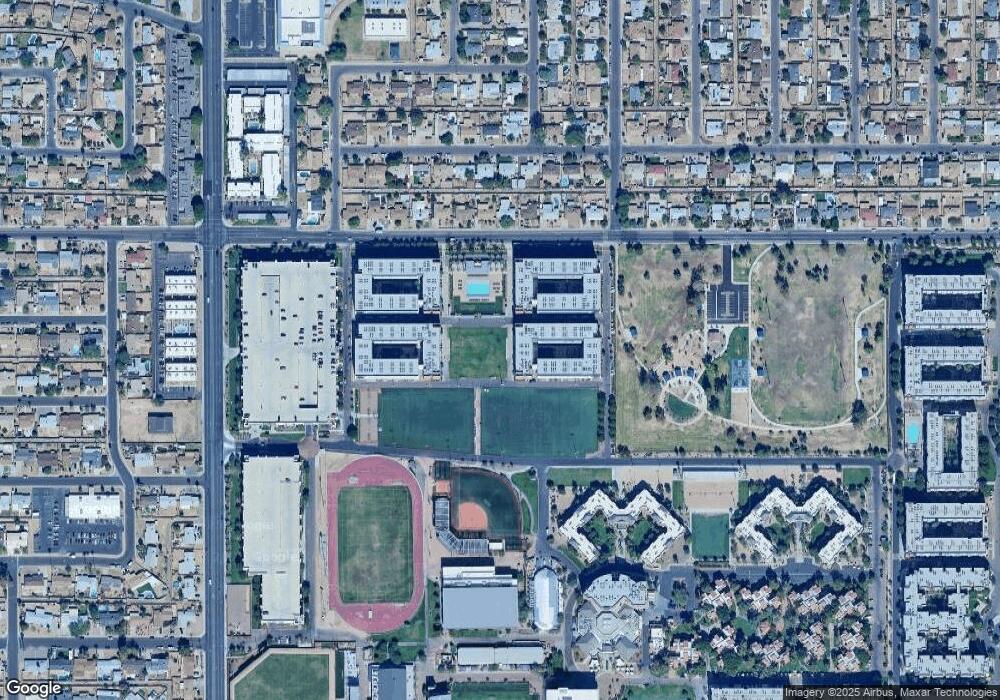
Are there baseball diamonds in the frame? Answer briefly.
Yes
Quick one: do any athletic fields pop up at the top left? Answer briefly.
No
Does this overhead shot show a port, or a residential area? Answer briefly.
residential area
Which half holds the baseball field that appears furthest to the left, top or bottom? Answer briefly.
bottom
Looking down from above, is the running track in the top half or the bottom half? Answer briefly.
bottom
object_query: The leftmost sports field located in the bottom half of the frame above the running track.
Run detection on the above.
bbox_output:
[379,389,474,453]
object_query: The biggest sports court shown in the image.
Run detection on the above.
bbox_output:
[684,480,737,509]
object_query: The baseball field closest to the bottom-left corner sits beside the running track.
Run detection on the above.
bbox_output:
[229,647,334,700]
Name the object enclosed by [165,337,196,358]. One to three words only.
building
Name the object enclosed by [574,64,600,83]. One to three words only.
house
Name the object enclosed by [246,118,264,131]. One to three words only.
swimming pool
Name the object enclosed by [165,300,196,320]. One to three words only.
building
